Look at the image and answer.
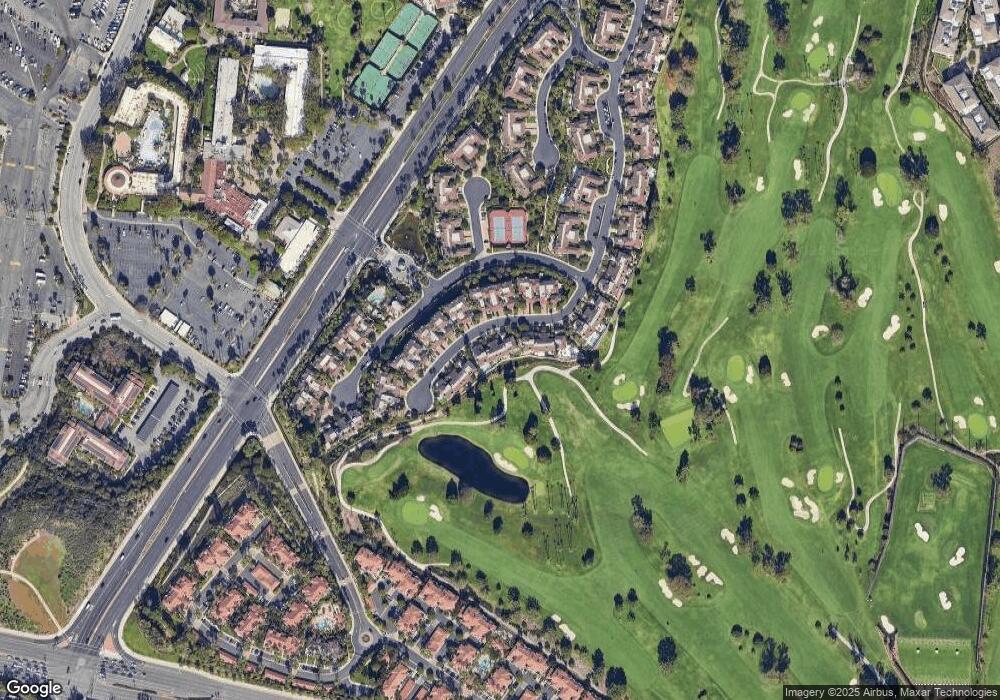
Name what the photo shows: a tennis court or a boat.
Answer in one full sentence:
Of the two, only a tennis court appears.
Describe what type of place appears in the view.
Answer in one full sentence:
The area seen from above is a golf course.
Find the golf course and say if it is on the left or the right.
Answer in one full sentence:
The golf course appears in the right half of the scene.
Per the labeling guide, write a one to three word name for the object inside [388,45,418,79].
tennis court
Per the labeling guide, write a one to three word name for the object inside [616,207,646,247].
house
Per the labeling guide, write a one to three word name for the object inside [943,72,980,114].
building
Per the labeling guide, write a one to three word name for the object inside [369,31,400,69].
tennis court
